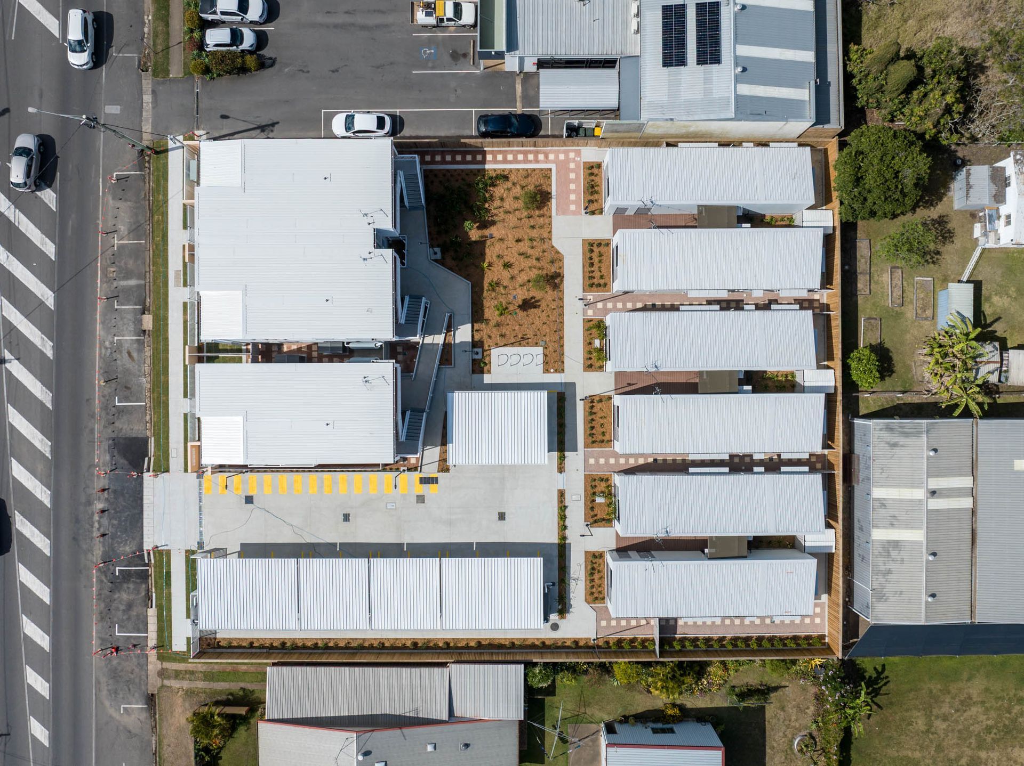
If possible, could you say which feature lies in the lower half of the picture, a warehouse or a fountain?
warehouse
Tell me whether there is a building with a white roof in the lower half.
Yes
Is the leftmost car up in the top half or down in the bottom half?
top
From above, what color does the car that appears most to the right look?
black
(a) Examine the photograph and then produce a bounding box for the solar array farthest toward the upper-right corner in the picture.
[696,0,720,65]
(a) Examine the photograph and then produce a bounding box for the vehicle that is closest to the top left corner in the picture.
[66,7,100,69]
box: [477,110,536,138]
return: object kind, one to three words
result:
car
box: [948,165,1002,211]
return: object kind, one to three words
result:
shed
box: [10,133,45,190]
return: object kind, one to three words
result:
car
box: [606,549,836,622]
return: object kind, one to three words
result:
house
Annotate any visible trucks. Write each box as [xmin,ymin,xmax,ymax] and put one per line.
[410,0,478,27]
[199,0,269,25]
